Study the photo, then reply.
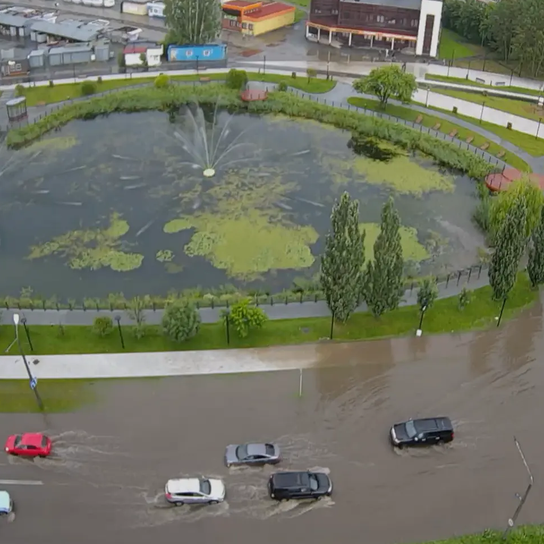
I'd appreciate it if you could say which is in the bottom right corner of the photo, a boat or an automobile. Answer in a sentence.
Looking in the bottom right corner of the photo, you will find an automobile.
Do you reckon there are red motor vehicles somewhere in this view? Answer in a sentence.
Yes, you can see a red motor vehicle in this photo.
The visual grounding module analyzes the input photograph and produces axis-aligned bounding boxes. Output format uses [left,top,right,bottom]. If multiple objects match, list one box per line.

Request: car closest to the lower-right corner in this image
[393,412,457,447]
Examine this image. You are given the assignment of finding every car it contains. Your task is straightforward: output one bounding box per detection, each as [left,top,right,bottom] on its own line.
[393,412,457,447]
[270,469,330,499]
[1,434,54,459]
[225,442,280,468]
[165,476,224,506]
[0,492,17,520]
